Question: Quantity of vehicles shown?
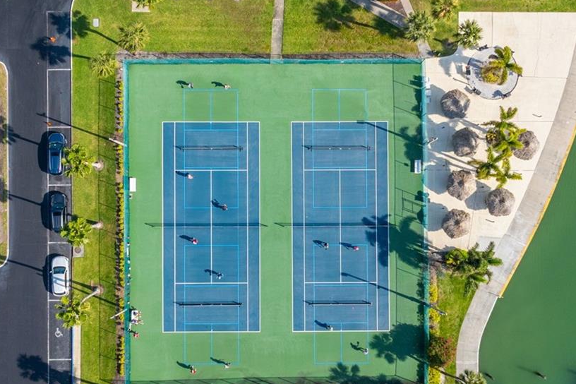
3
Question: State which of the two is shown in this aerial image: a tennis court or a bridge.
tennis court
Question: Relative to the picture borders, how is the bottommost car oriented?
up and down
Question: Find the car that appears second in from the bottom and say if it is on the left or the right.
left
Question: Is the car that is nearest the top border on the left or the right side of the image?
left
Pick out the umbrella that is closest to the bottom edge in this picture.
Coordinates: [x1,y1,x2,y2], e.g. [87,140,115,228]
[442,209,470,237]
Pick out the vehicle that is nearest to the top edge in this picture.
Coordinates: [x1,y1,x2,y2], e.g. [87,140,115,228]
[45,131,66,174]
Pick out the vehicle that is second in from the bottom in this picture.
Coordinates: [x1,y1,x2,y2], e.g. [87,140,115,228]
[46,190,66,232]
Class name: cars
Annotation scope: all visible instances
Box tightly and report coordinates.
[49,255,70,296]
[45,131,66,174]
[46,190,66,232]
